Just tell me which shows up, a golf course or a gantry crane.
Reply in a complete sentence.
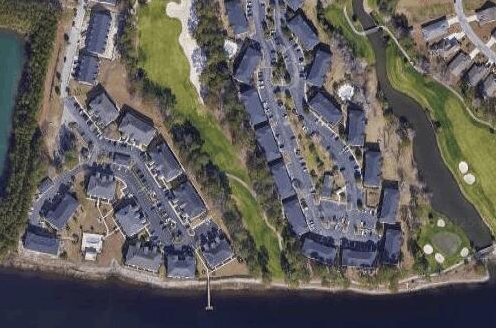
Visible in the photo is a golf course.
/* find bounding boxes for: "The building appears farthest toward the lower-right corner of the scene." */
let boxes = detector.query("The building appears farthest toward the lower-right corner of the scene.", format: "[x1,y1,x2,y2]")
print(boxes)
[382,228,401,265]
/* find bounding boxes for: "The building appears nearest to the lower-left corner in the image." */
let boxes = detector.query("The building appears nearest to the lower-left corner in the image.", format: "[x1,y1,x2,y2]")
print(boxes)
[24,231,60,256]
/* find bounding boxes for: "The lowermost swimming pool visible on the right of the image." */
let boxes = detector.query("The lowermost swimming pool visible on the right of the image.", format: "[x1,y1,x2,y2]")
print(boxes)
[338,85,354,101]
